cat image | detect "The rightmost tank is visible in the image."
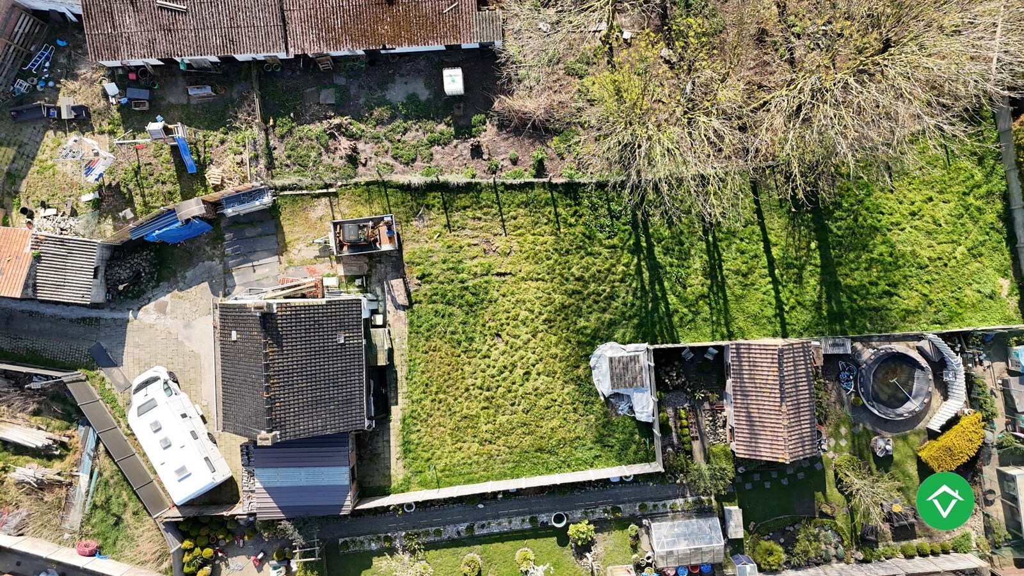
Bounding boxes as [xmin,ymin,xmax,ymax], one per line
[444,70,464,102]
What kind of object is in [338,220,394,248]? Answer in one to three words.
work vehicle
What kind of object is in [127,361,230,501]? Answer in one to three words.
camper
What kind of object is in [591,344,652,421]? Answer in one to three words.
shed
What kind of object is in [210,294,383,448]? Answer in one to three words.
house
